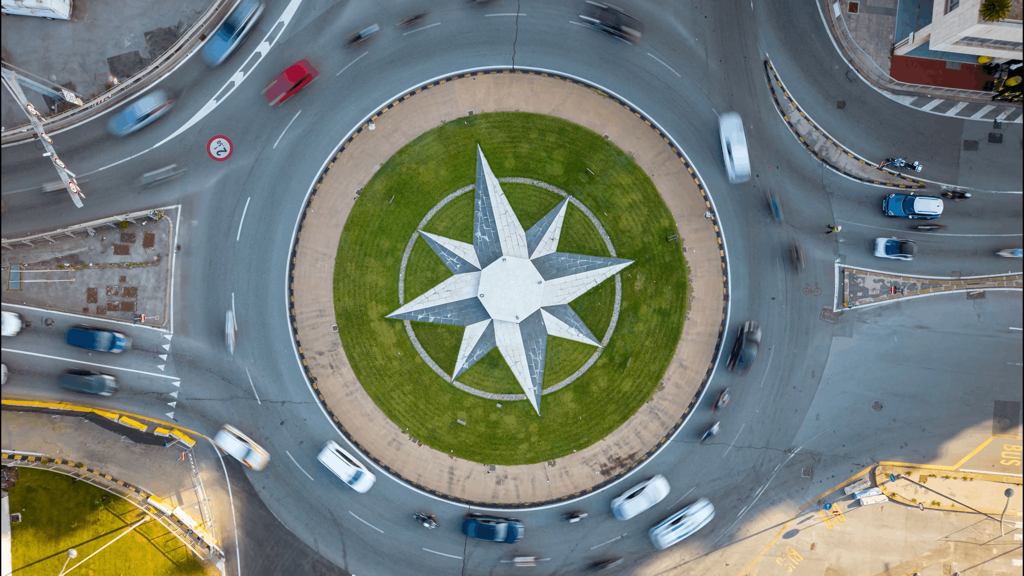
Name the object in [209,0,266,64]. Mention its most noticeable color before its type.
blue car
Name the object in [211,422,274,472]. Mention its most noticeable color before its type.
white car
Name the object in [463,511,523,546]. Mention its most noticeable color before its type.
blue car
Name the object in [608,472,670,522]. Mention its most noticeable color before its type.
white car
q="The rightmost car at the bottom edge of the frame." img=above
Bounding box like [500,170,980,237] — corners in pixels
[649,495,713,550]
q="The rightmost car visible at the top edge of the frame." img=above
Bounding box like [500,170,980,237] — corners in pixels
[580,1,648,49]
